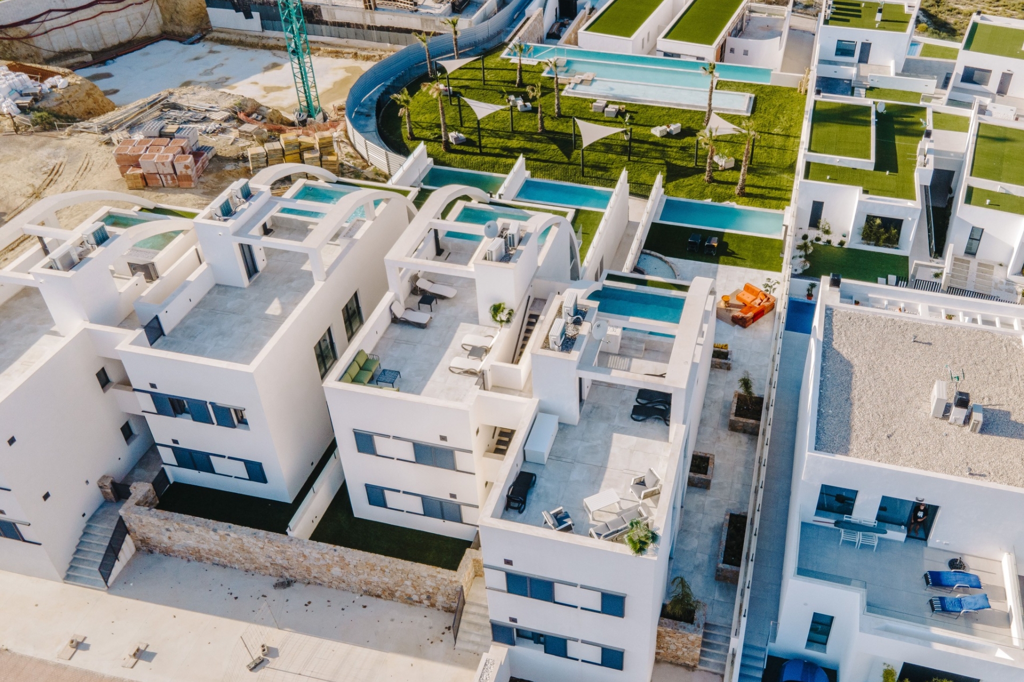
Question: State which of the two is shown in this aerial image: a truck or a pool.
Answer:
pool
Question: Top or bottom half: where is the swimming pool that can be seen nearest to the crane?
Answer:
top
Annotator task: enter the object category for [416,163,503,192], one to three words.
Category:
swimming pool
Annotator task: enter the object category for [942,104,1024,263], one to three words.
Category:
house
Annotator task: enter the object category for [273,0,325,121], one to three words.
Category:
crane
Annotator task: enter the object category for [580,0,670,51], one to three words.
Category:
building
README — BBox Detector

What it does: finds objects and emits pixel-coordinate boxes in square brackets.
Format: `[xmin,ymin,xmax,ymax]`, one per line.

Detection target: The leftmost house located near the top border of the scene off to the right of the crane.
[525,0,588,41]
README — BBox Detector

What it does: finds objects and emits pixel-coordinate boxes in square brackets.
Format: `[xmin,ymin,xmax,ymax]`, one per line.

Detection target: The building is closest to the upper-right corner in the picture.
[945,10,1024,97]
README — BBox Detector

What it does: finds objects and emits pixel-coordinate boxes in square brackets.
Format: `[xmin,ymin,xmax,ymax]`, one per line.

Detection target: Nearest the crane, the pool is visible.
[278,182,368,220]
